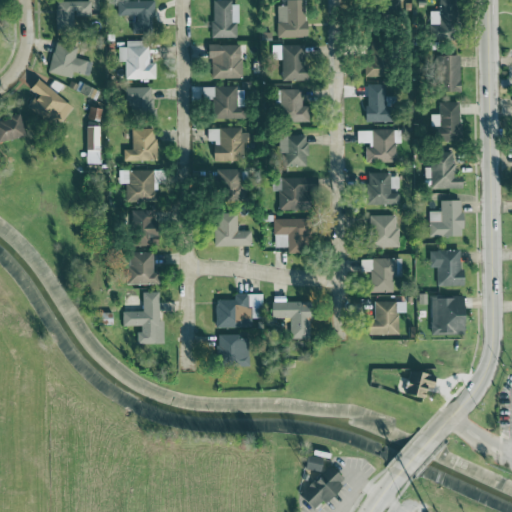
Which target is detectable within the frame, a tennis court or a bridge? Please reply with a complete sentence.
This aerial view contains a bridge.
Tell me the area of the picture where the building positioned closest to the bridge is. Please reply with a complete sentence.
The building positioned closest to the bridge is in the bottom right part of the image.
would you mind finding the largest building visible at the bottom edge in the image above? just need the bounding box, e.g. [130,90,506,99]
[303,464,348,510]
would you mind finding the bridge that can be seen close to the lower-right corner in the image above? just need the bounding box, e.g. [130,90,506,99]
[386,412,455,482]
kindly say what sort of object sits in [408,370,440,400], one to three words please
building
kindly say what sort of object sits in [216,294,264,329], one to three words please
house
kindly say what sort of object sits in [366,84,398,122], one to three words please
house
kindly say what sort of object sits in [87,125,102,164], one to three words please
shed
